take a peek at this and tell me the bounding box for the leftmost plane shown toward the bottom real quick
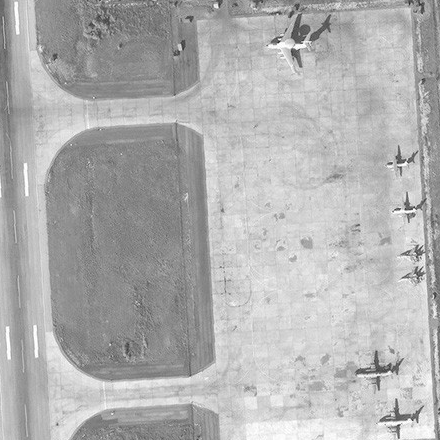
[356,354,394,394]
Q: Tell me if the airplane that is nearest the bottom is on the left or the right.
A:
right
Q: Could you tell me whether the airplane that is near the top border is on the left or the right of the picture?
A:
right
